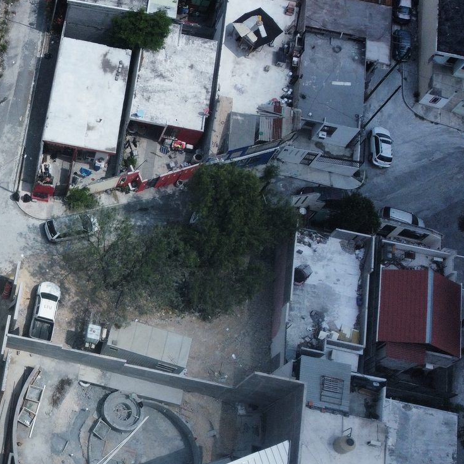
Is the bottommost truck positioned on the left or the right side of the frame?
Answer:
left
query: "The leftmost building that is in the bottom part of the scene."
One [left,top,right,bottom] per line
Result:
[102,322,191,374]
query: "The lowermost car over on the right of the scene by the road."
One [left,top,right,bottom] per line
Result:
[378,202,424,237]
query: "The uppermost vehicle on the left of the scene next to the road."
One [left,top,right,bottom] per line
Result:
[43,211,101,246]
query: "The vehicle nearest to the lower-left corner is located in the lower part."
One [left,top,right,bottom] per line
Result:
[30,283,63,344]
